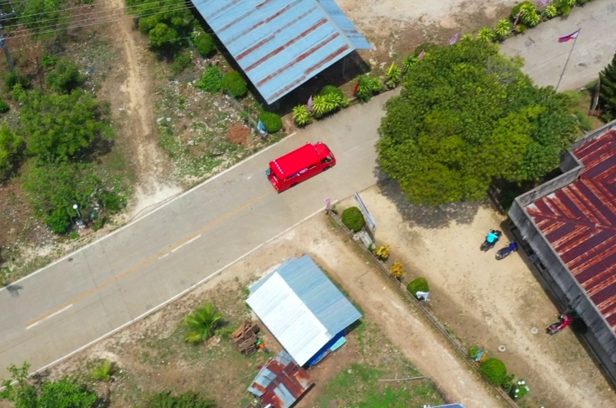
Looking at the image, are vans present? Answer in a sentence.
Yes, the photo shows a van.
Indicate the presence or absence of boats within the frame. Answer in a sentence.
No, I can see no boat in this picture.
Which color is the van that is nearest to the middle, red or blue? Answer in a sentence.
The color of the van that is nearest to the middle is red.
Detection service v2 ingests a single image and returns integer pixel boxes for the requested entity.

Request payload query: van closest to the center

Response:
[269,143,341,195]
